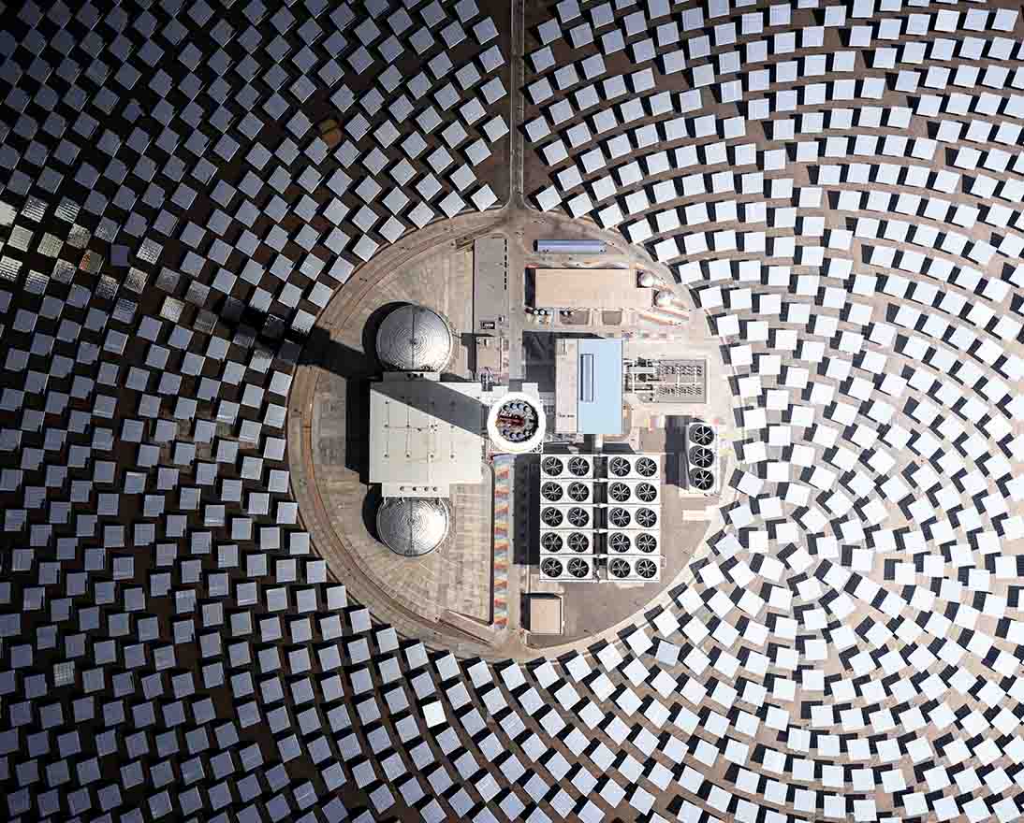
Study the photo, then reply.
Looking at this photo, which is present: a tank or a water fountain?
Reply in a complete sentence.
Visible in the photo is a tank.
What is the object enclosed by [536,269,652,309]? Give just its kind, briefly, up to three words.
building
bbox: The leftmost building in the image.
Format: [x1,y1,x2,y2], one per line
[370,371,483,502]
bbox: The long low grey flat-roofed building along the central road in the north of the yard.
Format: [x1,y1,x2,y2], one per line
[475,238,506,334]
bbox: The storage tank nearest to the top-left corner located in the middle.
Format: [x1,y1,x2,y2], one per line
[376,304,453,372]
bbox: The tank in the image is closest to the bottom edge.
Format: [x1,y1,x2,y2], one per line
[376,497,450,557]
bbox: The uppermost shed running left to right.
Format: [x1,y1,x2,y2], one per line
[537,241,608,253]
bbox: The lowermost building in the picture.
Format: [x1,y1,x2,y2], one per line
[526,594,562,637]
